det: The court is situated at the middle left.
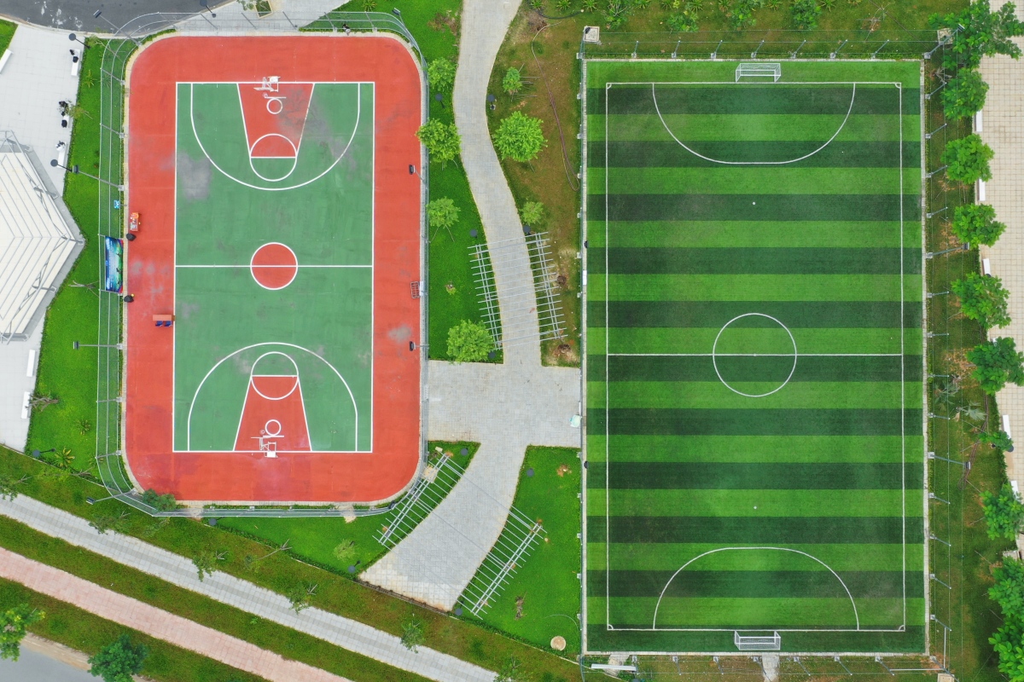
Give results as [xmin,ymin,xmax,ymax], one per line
[120,31,426,507]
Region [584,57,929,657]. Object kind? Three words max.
soccer field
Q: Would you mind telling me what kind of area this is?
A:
sports ground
